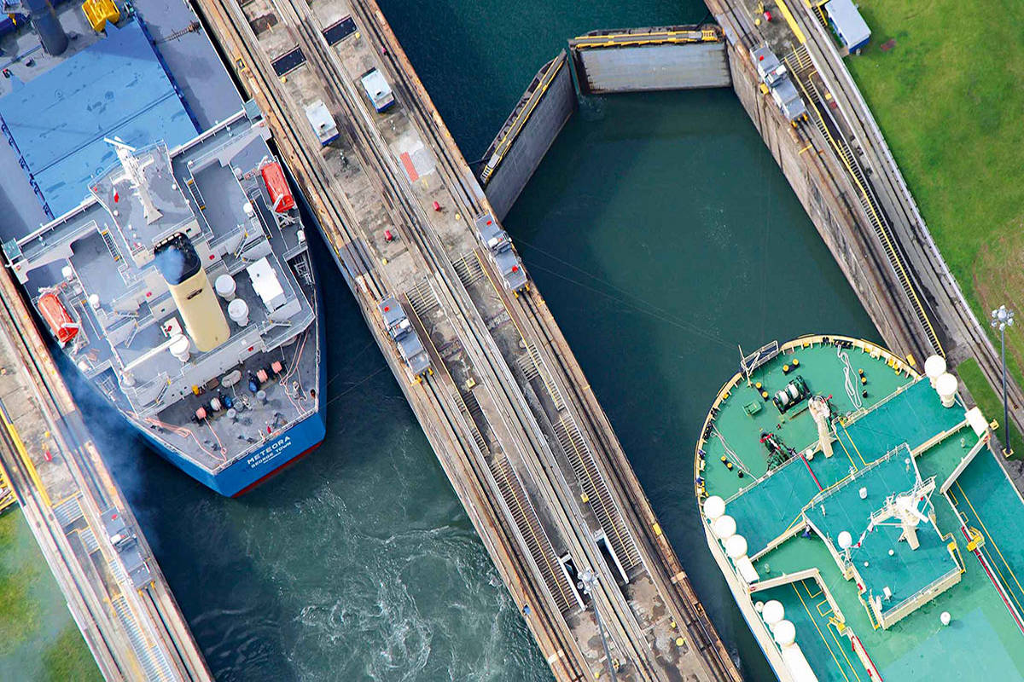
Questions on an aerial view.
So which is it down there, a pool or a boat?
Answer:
boat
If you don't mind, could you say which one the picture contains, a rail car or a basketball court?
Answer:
rail car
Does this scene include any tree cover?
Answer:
No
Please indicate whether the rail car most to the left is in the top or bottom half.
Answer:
bottom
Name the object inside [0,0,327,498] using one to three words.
ship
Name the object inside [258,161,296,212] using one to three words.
boat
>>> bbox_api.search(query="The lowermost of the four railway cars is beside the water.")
[100,506,157,597]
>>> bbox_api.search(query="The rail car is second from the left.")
[378,297,436,385]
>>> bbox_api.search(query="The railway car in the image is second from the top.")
[474,214,533,301]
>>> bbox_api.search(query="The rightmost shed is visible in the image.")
[817,0,872,64]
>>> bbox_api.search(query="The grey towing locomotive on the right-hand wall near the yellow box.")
[752,44,811,130]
